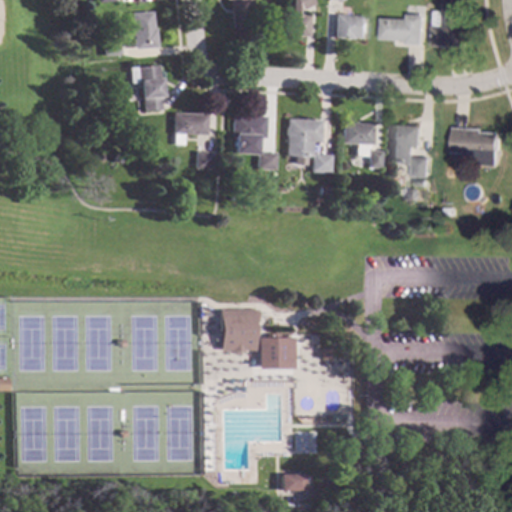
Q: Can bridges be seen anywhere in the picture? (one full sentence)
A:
No, no bridge is visible in the scene.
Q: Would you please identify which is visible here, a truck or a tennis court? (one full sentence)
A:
Visible in the photo is a tennis court.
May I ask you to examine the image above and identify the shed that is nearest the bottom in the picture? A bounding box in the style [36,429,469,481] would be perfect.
[283,474,308,492]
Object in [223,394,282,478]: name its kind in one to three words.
swimming pool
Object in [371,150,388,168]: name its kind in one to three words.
building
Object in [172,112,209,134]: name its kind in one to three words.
house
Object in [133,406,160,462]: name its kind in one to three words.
tennis court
